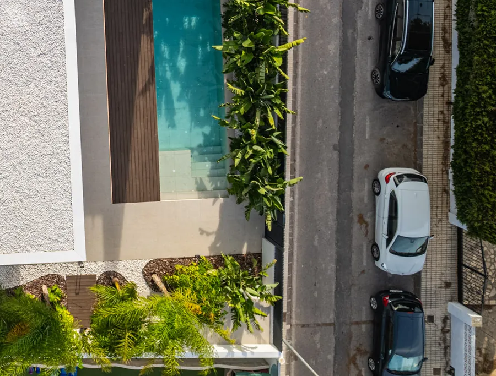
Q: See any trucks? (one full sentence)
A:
No, there is no truck in the image.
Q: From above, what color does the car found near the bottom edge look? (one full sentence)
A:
The car found near the bottom edge is black.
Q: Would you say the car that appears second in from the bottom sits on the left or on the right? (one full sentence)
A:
The car that appears second in from the bottom is on the right side of the image.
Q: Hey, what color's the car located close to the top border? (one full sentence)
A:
The car located close to the top border looks black in the image.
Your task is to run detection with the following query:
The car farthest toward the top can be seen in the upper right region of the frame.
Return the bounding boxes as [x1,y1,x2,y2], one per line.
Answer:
[371,0,436,103]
